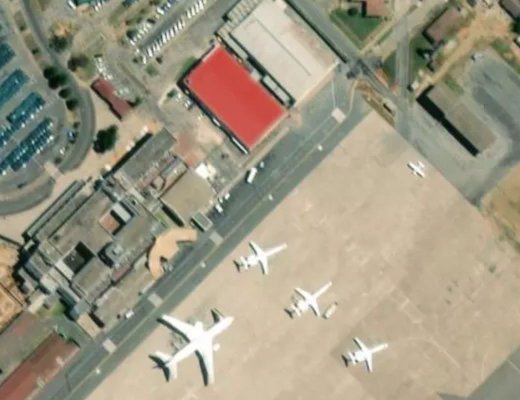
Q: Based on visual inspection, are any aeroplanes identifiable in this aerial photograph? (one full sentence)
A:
Yes, an aeroplane can be made out from above.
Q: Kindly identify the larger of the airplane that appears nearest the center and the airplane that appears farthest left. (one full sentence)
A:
Of the two, the airplane that appears farthest left is larger and the airplane that appears nearest the center is the smaller one.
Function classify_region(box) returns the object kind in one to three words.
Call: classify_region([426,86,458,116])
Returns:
hangar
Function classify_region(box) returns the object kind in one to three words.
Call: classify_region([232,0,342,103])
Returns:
shed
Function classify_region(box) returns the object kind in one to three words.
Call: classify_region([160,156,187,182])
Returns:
house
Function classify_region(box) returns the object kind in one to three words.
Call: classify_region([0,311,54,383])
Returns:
building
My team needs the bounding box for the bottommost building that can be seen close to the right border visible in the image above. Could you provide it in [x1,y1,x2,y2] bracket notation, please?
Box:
[443,102,497,152]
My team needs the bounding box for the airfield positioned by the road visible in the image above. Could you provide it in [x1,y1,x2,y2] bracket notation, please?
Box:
[27,96,520,400]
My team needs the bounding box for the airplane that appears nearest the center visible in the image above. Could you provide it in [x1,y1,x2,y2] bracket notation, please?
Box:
[242,241,287,274]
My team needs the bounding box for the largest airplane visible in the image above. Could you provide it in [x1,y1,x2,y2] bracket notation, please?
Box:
[157,315,234,383]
